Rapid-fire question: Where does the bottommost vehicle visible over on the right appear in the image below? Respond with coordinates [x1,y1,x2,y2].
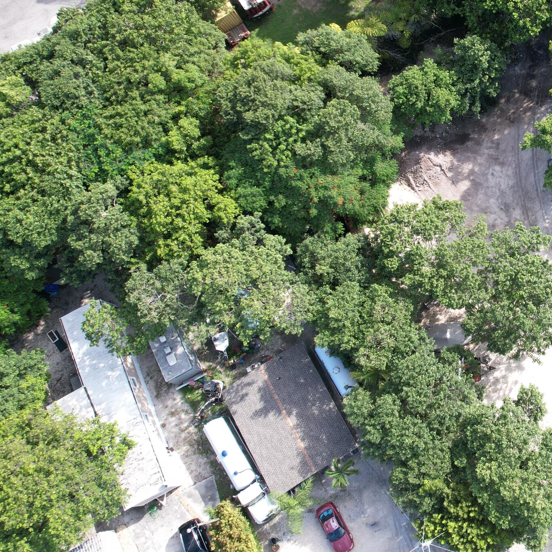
[317,500,357,552]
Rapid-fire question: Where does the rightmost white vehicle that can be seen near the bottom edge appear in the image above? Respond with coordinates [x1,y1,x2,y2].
[199,414,284,527]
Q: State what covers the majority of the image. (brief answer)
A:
trees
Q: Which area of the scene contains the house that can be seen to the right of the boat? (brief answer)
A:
bottom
